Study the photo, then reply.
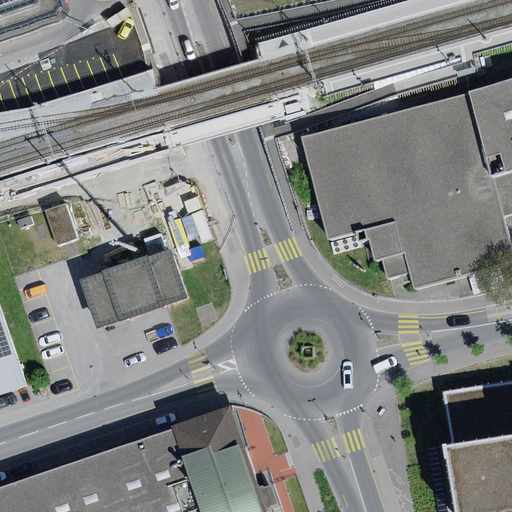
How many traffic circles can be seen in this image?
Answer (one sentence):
In total, there is 1 traffic circle in the scene.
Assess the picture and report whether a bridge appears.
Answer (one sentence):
Yes, this view includes a bridge.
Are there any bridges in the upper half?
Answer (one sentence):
Yes, looking in the upper half, one can make out a bridge.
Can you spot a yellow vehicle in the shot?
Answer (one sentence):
Yes, the image includes a yellow vehicle.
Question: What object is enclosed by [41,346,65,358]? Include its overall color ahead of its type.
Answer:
white vehicle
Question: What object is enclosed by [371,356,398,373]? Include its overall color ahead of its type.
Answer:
white vehicle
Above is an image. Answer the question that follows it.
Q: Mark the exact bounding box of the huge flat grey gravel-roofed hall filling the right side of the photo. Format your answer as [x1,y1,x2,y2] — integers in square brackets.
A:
[302,80,512,296]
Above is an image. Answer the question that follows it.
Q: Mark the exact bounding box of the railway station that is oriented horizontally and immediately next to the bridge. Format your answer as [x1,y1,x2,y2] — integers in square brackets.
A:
[258,0,512,108]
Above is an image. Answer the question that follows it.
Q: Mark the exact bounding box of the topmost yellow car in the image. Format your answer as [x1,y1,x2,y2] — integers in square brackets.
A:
[118,18,134,40]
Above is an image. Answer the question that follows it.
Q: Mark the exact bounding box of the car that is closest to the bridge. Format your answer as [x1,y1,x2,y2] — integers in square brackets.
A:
[182,36,196,60]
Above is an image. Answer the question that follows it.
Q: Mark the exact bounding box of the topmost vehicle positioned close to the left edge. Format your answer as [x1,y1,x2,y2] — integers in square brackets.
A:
[24,282,48,298]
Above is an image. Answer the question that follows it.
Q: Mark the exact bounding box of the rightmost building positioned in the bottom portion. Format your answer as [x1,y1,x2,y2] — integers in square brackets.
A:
[443,383,512,512]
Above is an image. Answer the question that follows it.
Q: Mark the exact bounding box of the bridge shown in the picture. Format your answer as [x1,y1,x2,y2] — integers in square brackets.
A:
[154,59,311,147]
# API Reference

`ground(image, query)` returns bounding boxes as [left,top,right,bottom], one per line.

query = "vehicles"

[28,308,50,321]
[446,315,470,326]
[38,332,63,346]
[145,326,174,341]
[50,380,74,392]
[182,36,196,60]
[124,353,146,366]
[18,388,31,402]
[152,338,178,352]
[154,413,176,426]
[371,356,398,373]
[41,346,65,358]
[342,360,354,388]
[24,282,48,298]
[118,18,134,40]
[0,393,18,408]
[168,0,178,10]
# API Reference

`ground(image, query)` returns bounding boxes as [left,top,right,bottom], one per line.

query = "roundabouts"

[272,316,342,385]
